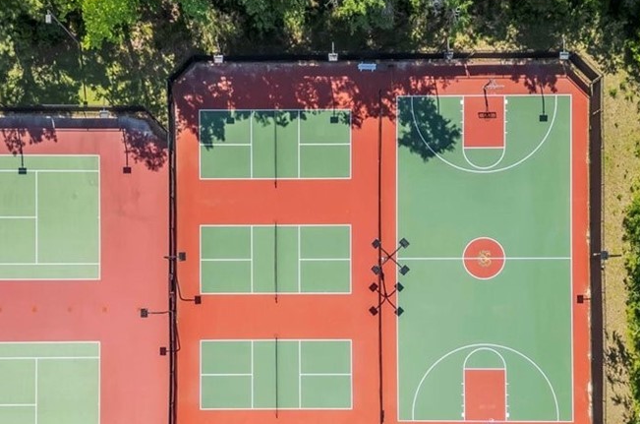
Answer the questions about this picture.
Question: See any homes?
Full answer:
No, the picture doesn't show any home.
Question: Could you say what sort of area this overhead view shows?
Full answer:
What you see here is a sports ground.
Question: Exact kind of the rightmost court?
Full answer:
What you see as the rightmost court is a basketball court.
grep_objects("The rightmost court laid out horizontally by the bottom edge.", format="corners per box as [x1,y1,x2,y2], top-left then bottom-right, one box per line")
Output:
[200,340,353,410]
